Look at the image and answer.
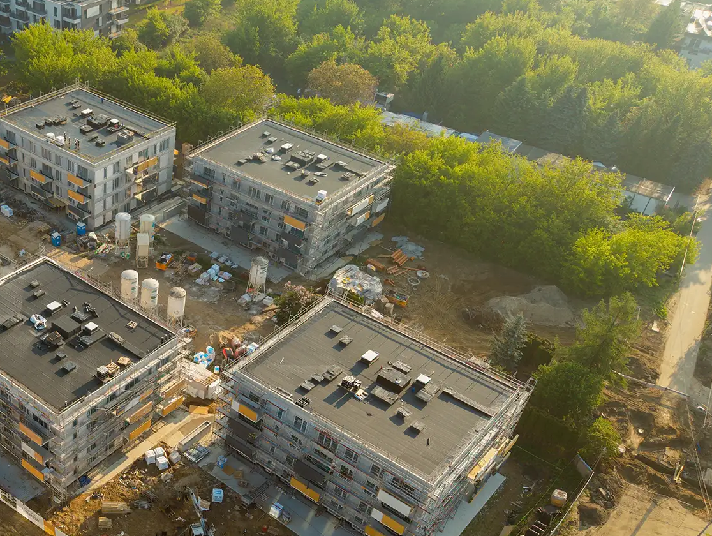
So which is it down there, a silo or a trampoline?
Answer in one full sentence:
Of the two, only a silo appears.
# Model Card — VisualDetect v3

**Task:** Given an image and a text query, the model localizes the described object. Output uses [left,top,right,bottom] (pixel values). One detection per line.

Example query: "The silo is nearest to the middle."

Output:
[247,260,268,302]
